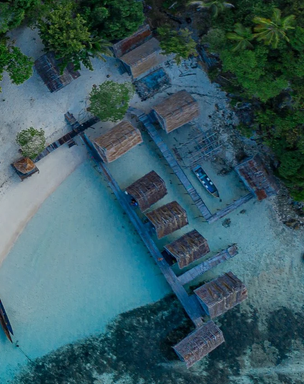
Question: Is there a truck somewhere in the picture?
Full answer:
No, the frame has no truck in it.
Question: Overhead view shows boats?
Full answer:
Yes, the image includes a boat.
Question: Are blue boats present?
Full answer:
Yes, there is a blue boat in the image.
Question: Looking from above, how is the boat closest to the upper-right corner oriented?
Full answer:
The boat closest to the upper-right corner runs on a diagonal in the image.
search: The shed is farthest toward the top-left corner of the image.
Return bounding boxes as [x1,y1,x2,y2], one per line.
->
[34,55,78,97]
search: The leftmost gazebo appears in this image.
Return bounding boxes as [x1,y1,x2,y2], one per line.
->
[2,150,35,182]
